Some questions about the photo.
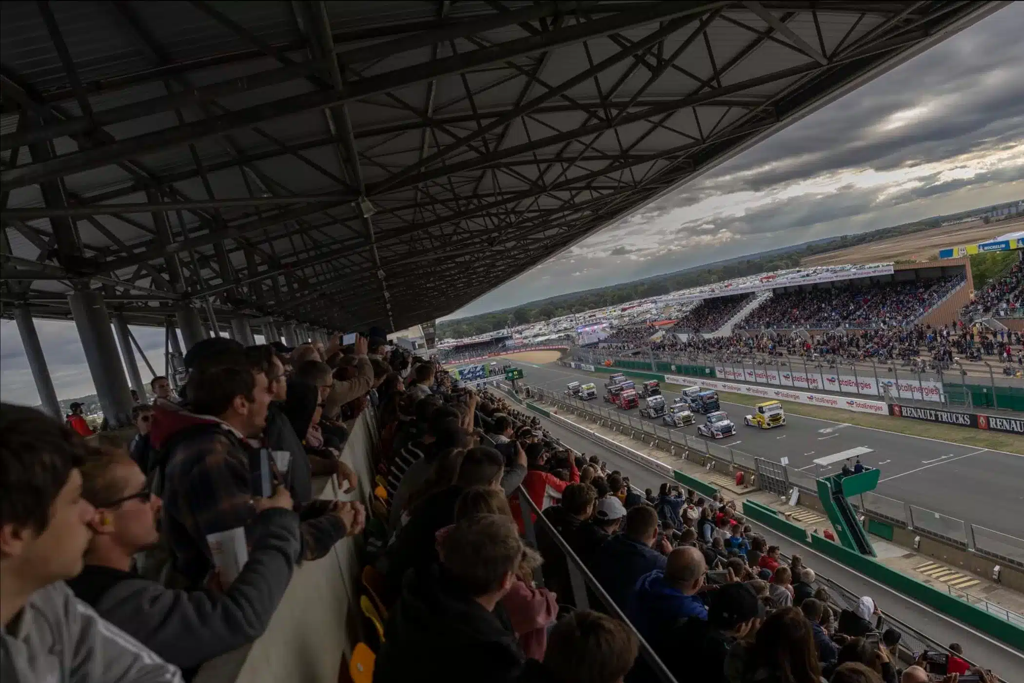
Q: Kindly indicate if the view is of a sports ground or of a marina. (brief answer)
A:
sports ground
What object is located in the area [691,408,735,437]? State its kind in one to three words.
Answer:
truck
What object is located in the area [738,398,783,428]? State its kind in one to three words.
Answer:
truck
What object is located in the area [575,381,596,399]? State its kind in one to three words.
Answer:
vehicle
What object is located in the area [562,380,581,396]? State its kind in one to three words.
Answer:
vehicle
